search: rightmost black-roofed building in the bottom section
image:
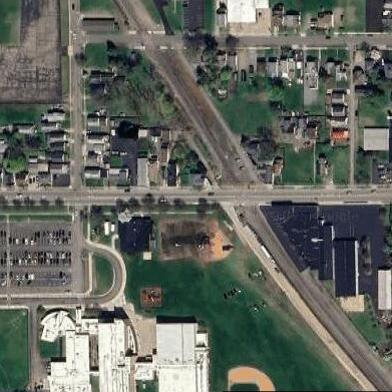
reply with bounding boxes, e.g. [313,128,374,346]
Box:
[333,240,357,296]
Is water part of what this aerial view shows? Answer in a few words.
No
